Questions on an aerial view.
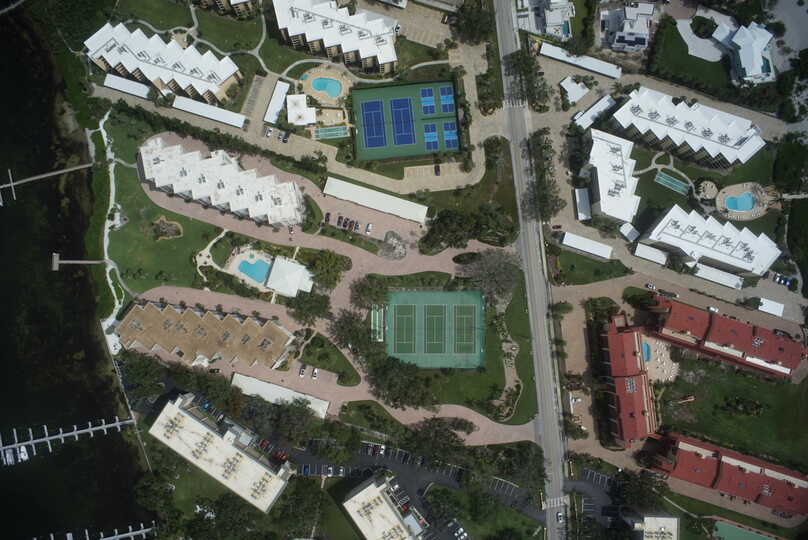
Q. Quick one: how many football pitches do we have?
0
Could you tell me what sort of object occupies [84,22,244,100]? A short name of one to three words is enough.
building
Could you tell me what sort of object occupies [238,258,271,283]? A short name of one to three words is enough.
swimming pool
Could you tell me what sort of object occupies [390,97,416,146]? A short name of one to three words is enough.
tennis court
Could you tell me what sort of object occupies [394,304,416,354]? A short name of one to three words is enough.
tennis court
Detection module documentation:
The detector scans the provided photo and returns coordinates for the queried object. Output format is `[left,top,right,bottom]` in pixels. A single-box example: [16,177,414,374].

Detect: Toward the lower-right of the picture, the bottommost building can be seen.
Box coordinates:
[630,511,681,540]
